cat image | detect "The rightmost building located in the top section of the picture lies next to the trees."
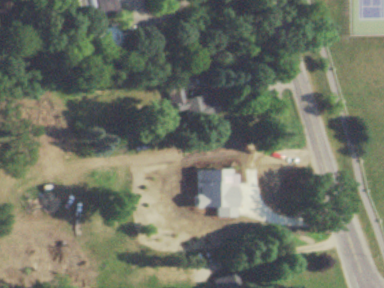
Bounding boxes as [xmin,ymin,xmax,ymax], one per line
[170,86,216,118]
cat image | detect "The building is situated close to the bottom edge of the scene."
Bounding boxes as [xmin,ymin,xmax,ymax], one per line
[216,272,242,288]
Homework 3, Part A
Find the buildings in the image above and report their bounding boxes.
[197,168,244,219]
[216,272,242,288]
[170,86,216,118]
[92,0,124,16]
